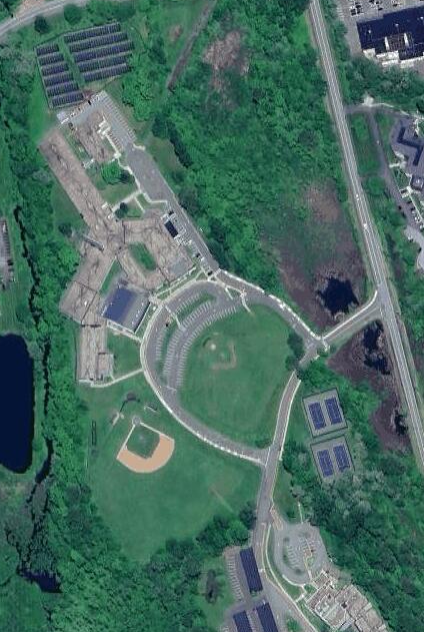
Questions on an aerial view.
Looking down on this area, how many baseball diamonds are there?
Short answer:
2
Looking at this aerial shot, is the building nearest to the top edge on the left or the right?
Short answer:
right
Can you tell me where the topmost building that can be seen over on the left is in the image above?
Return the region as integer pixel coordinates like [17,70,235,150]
[38,109,195,384]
